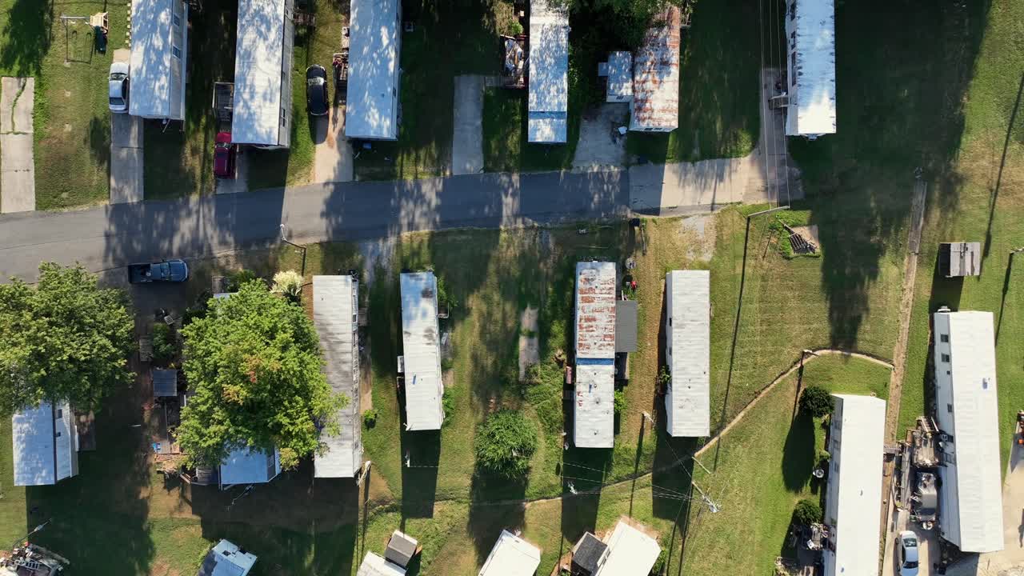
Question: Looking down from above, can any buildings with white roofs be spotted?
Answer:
Yes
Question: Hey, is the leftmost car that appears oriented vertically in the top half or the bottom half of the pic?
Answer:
top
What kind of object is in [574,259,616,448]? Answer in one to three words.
house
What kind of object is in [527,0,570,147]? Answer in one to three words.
house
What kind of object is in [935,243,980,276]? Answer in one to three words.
shed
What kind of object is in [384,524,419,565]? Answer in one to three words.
shed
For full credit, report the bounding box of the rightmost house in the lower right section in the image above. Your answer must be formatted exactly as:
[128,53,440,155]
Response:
[930,297,1004,553]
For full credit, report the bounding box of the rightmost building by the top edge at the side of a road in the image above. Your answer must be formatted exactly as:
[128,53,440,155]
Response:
[784,0,836,152]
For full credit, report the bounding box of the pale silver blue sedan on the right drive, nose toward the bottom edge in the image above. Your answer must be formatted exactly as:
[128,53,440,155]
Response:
[896,531,921,576]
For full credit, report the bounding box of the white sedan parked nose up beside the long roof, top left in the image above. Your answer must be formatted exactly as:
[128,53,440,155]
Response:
[107,64,129,114]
